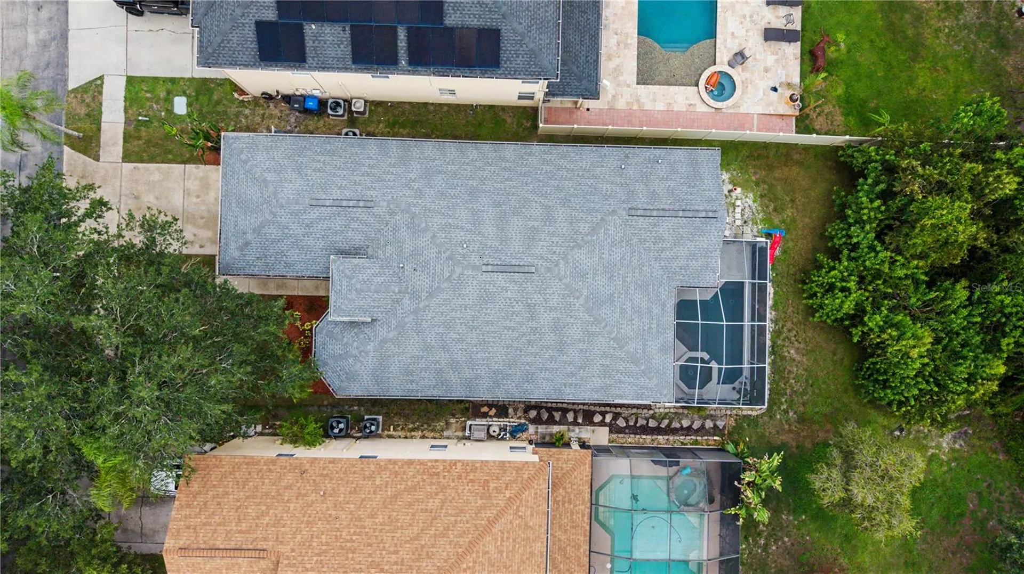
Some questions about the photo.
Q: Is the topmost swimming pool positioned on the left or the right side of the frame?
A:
right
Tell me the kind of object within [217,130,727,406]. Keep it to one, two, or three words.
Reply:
house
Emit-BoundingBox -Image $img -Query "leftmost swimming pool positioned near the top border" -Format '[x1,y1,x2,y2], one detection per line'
[636,0,718,86]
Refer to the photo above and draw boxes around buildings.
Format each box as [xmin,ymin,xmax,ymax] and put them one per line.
[217,130,727,406]
[162,437,592,574]
[188,0,609,109]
